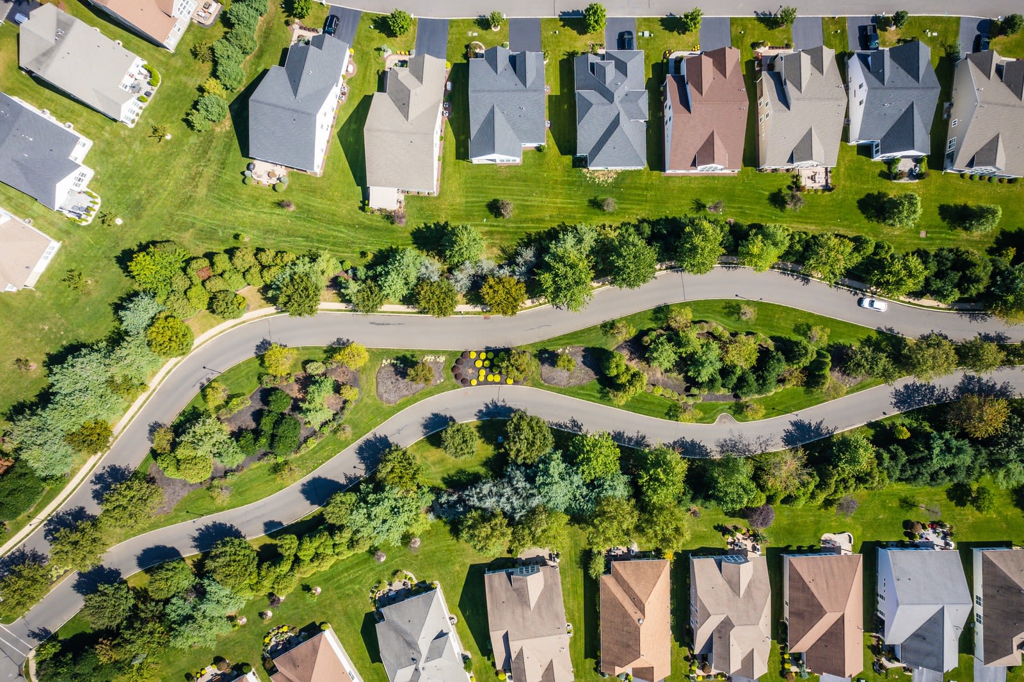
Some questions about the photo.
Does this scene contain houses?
Yes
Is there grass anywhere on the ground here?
Yes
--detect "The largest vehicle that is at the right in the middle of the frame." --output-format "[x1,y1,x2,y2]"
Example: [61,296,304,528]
[857,297,887,312]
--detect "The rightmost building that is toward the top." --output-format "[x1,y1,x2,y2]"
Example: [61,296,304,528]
[943,45,1024,179]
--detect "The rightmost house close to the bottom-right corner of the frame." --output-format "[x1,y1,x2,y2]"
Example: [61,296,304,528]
[971,548,1024,667]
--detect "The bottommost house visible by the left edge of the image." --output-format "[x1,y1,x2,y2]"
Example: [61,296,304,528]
[0,208,62,293]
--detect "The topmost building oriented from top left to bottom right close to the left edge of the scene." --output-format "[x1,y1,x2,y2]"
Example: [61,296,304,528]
[13,3,143,124]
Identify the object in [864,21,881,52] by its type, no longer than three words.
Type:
vehicle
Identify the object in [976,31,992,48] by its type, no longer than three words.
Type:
car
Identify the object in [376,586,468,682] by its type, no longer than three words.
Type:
house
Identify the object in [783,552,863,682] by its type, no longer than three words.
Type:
house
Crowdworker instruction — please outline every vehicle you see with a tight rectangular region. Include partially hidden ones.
[857,297,887,312]
[864,21,881,52]
[976,31,992,48]
[620,28,633,51]
[322,10,339,38]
